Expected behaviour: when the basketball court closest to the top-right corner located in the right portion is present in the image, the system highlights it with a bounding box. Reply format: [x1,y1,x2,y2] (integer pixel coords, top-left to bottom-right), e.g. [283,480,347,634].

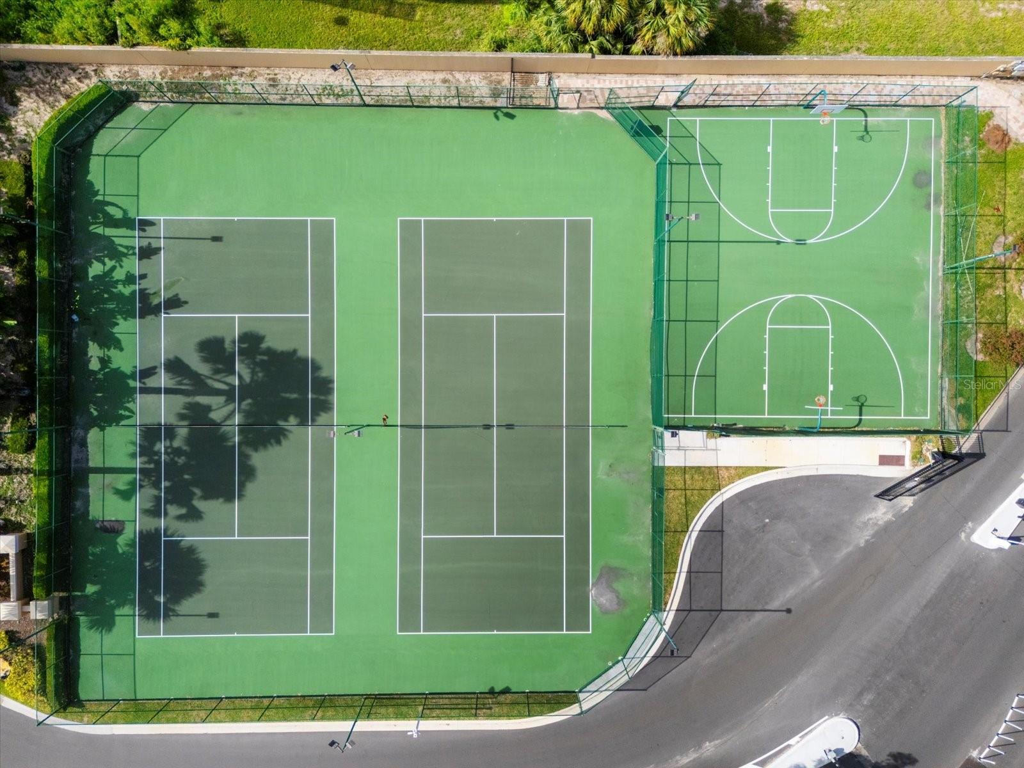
[661,110,938,424]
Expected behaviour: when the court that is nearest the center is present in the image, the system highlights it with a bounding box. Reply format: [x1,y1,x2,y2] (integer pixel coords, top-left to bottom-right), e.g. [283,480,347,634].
[397,218,592,634]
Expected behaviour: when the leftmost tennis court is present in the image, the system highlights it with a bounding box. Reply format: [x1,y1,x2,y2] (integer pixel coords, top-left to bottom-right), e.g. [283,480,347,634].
[136,218,335,637]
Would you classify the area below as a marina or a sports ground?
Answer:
sports ground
